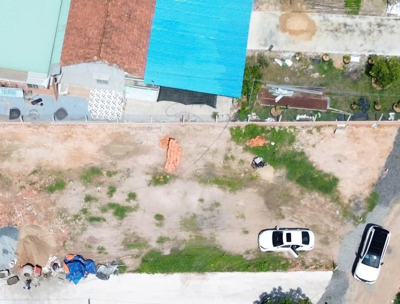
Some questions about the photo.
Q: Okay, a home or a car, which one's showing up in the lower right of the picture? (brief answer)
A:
car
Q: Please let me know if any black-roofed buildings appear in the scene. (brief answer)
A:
No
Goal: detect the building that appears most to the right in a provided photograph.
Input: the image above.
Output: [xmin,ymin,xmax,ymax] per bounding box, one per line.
[142,0,252,105]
